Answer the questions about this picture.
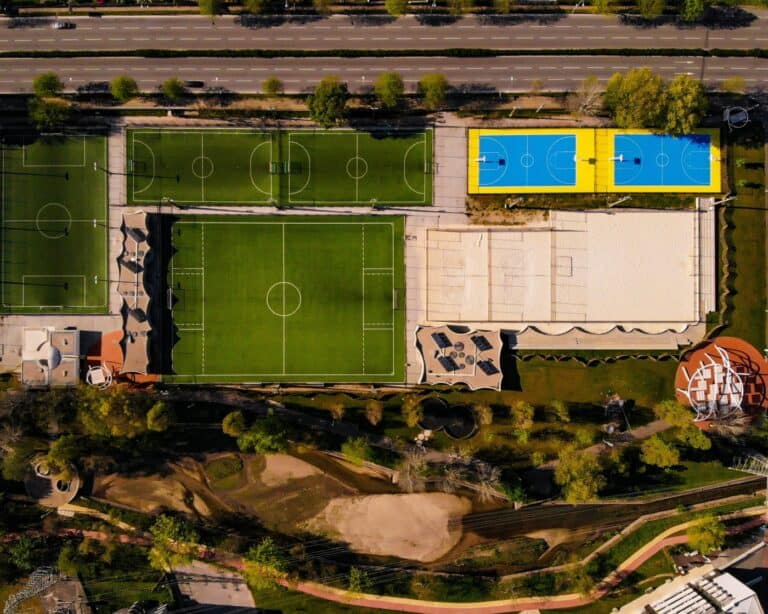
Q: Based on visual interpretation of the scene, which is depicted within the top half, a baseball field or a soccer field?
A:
soccer field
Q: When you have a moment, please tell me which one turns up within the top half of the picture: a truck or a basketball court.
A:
basketball court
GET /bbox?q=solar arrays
[474,334,490,352]
[440,355,457,373]
[481,359,496,376]
[434,331,450,349]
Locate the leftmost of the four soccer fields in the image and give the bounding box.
[0,130,107,313]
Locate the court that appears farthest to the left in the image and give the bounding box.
[427,231,488,321]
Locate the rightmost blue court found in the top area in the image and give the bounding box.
[602,129,721,193]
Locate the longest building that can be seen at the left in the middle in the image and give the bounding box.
[115,210,154,376]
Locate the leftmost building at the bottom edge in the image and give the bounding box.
[40,576,96,614]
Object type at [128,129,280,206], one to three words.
soccer field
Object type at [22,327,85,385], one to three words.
building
